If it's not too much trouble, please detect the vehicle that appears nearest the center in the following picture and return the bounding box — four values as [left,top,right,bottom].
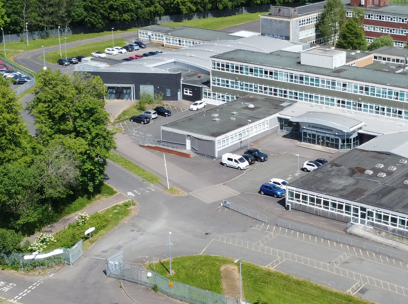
[222,149,251,167]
